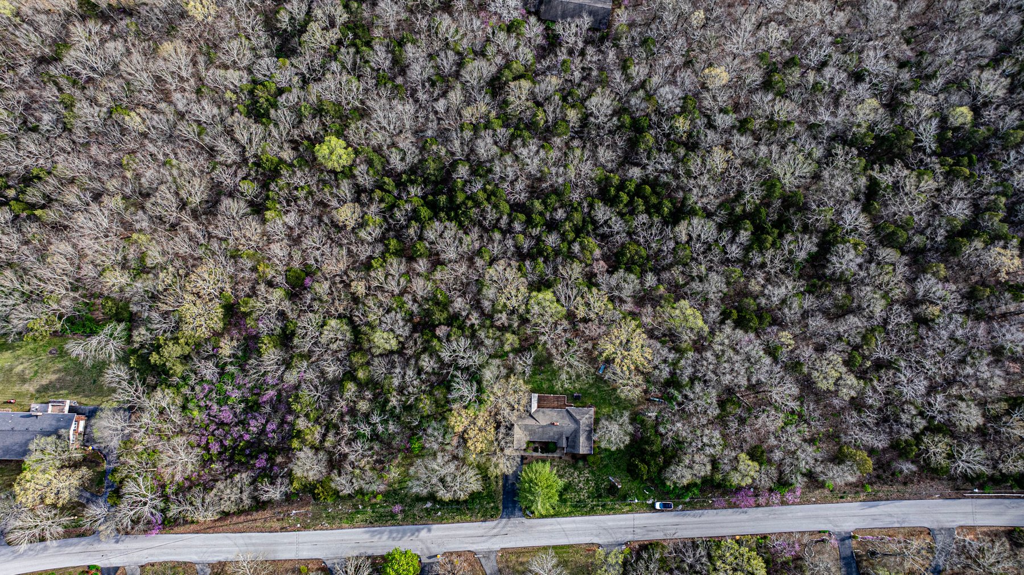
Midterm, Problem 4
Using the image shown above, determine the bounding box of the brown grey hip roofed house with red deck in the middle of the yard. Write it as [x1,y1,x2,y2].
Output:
[513,393,594,457]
